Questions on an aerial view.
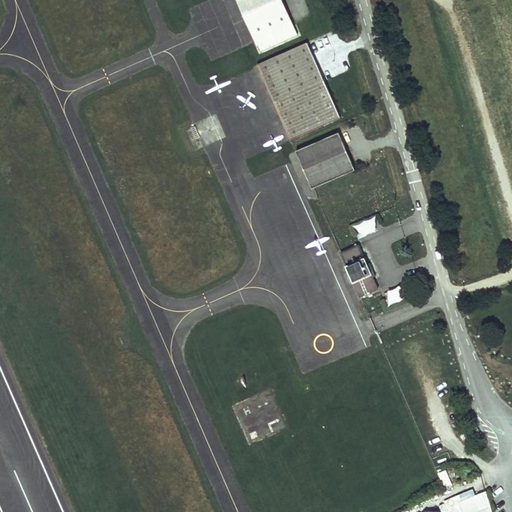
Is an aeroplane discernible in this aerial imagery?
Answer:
Yes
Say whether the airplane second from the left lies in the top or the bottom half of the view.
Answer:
top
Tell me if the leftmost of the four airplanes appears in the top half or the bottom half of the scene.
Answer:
top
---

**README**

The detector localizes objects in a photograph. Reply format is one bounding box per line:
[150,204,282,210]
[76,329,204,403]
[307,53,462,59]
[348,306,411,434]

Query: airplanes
[262,134,284,153]
[304,236,330,256]
[206,74,231,94]
[236,90,257,111]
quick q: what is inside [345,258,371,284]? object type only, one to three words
building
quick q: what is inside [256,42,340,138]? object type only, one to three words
hangar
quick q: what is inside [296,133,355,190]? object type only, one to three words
hangar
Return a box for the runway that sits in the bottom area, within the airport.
[0,340,73,512]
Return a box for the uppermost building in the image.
[235,0,300,55]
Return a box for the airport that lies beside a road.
[0,0,368,512]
